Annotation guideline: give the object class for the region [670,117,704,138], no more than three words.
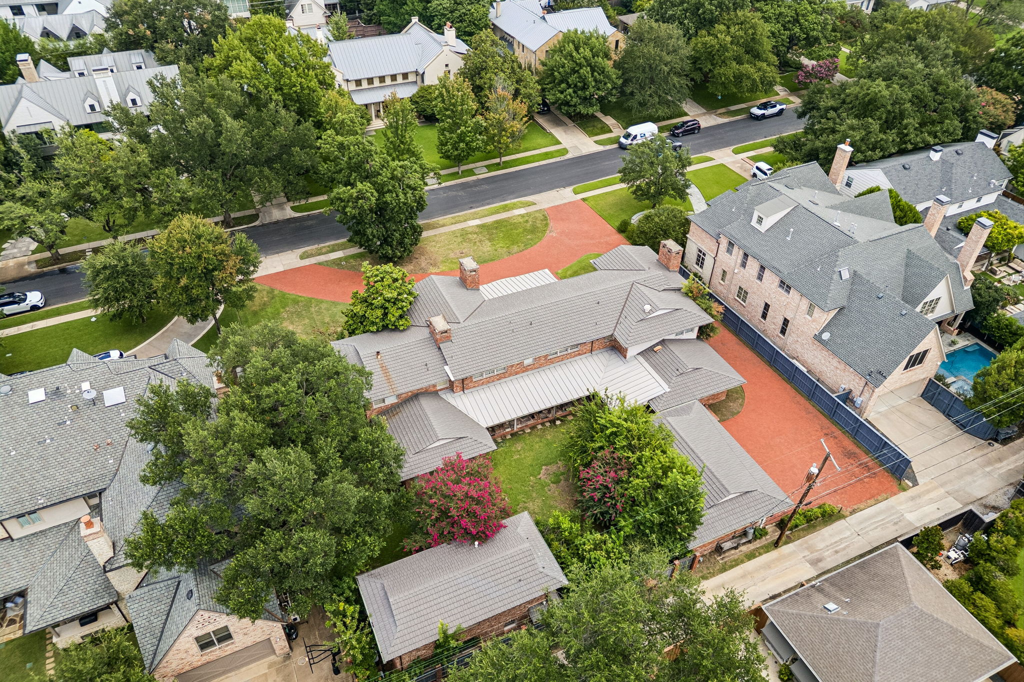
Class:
car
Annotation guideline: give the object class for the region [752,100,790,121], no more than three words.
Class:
truck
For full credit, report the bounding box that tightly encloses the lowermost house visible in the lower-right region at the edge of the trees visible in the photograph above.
[758,540,1024,682]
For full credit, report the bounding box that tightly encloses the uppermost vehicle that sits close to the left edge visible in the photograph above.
[0,288,48,318]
